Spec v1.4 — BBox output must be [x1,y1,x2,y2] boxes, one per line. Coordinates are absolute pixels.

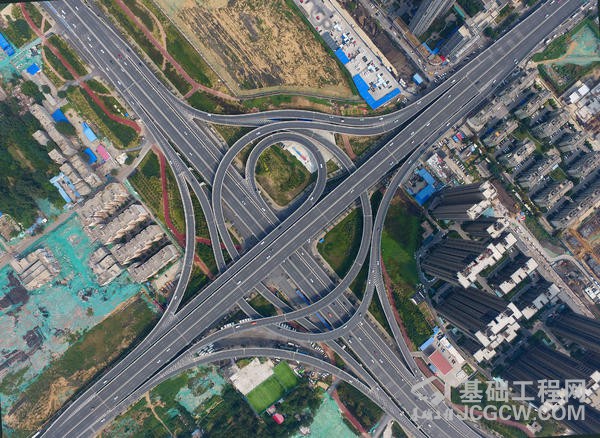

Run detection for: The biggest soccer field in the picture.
[247,374,286,417]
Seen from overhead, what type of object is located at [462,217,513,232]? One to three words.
building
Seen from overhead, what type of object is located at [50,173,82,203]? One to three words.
shed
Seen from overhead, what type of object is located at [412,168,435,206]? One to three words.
shed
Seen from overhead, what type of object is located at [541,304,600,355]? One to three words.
building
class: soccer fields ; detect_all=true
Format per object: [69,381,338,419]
[274,361,299,392]
[247,374,286,417]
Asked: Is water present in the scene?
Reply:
No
